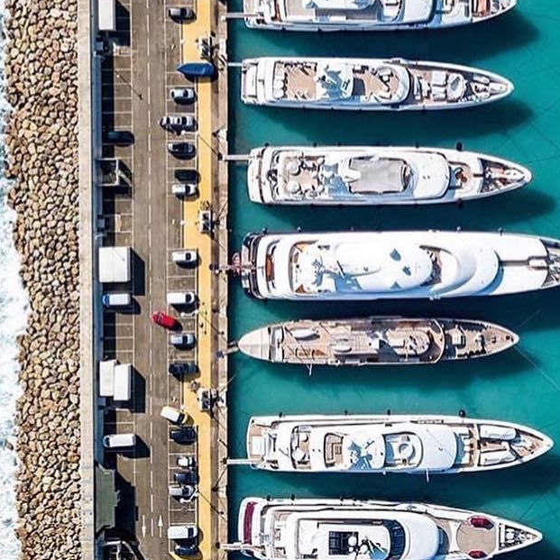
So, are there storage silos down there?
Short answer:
No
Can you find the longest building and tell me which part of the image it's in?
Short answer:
bottom left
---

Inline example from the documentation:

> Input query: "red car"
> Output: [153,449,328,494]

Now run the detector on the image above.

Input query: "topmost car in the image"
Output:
[167,6,193,19]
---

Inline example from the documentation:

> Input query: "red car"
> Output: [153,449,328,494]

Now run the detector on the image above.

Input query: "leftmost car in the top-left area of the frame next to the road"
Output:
[105,130,132,144]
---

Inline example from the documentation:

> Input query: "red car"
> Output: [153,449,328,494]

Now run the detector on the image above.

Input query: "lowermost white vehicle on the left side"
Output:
[166,525,196,542]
